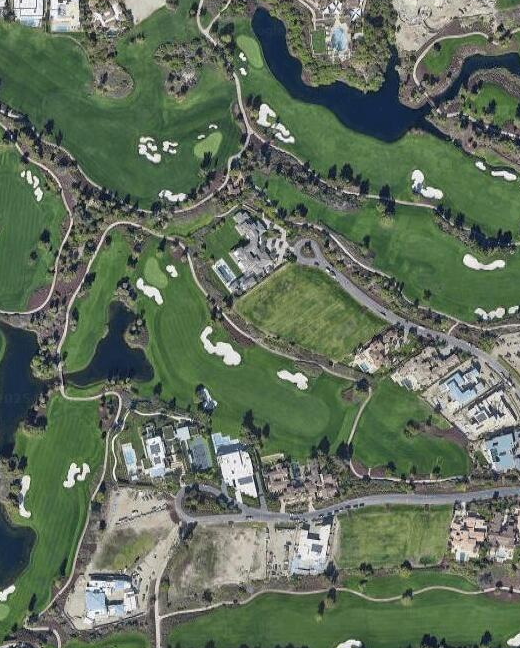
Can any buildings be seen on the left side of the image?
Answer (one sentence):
Yes, a building shows up on the left side of the image.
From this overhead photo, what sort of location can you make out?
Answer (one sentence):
The picture captures a golf course.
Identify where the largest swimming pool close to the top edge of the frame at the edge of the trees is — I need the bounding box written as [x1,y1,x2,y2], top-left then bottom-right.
[330,27,346,52]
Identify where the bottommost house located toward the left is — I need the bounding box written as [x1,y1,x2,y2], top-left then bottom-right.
[82,580,136,626]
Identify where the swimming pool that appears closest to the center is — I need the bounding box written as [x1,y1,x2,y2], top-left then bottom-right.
[212,259,236,290]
